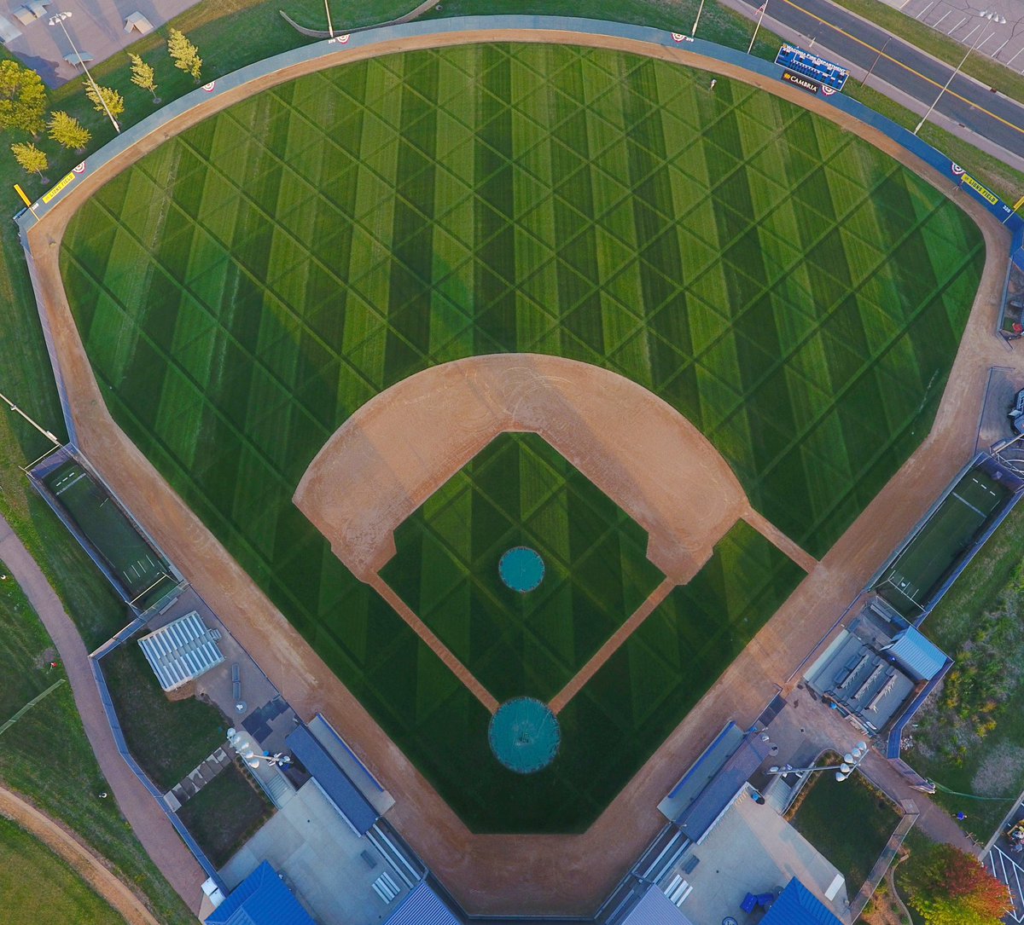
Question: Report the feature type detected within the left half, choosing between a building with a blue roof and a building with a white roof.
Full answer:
There is a building with a blue roof within the left half.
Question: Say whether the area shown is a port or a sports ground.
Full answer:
It's a sports ground.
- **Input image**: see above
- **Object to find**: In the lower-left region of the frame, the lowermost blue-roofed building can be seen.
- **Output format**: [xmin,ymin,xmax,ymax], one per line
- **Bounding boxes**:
[202,860,321,925]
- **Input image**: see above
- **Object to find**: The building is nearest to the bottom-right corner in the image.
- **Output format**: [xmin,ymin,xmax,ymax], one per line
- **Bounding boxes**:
[750,877,843,925]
